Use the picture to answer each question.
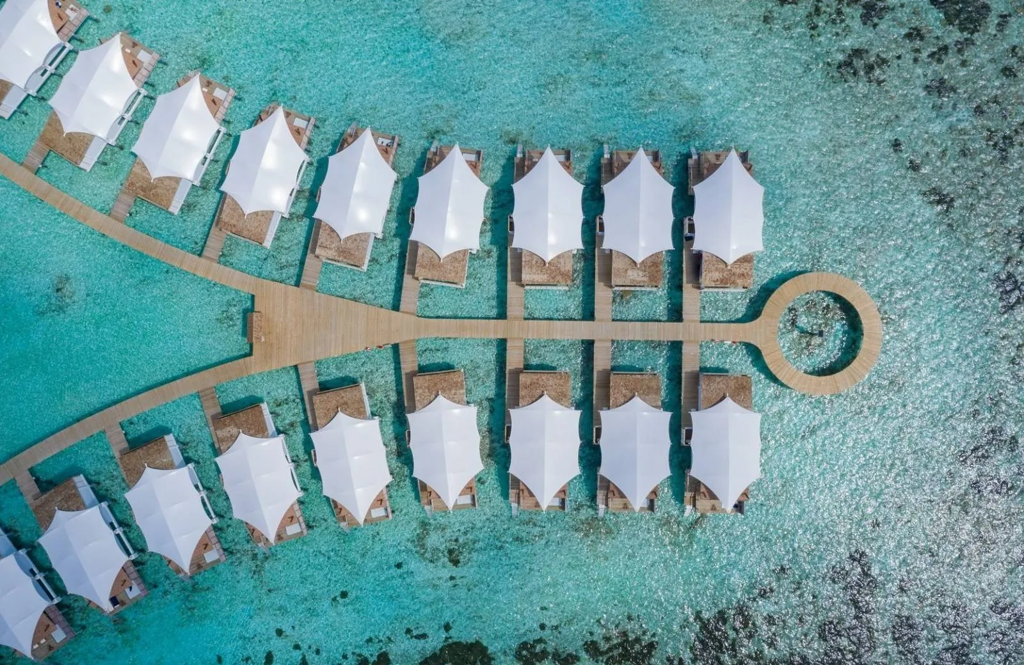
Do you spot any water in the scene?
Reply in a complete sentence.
Yes, the picture does contain water.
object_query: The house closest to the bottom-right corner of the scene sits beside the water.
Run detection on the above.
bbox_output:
[679,370,763,514]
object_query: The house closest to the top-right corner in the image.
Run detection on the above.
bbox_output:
[682,147,766,292]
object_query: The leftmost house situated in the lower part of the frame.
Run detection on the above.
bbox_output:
[0,517,87,661]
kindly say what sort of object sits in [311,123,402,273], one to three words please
house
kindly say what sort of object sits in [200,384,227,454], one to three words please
pier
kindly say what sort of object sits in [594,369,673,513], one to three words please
house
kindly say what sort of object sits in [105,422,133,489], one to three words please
pier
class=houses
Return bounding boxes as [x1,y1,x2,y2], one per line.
[120,430,231,579]
[594,369,673,513]
[508,144,585,289]
[212,398,313,549]
[682,147,766,292]
[307,379,395,529]
[311,123,402,273]
[506,368,583,513]
[679,370,763,514]
[38,28,170,175]
[405,367,486,513]
[596,147,676,291]
[217,100,320,251]
[0,517,87,661]
[31,469,158,617]
[0,0,100,124]
[126,69,243,218]
[407,142,490,289]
